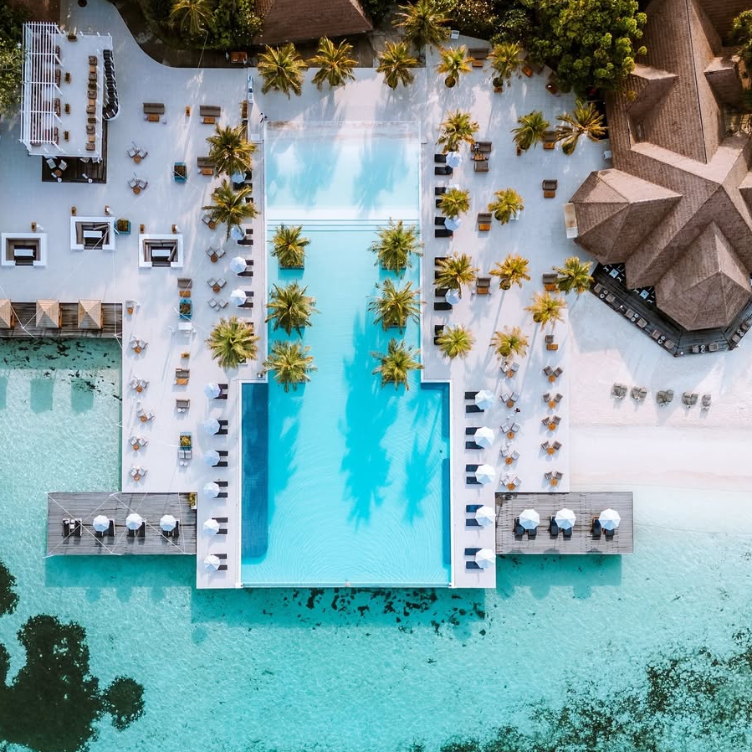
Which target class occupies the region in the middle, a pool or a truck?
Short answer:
pool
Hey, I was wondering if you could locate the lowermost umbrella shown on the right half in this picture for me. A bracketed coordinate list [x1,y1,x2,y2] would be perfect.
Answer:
[475,548,496,569]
